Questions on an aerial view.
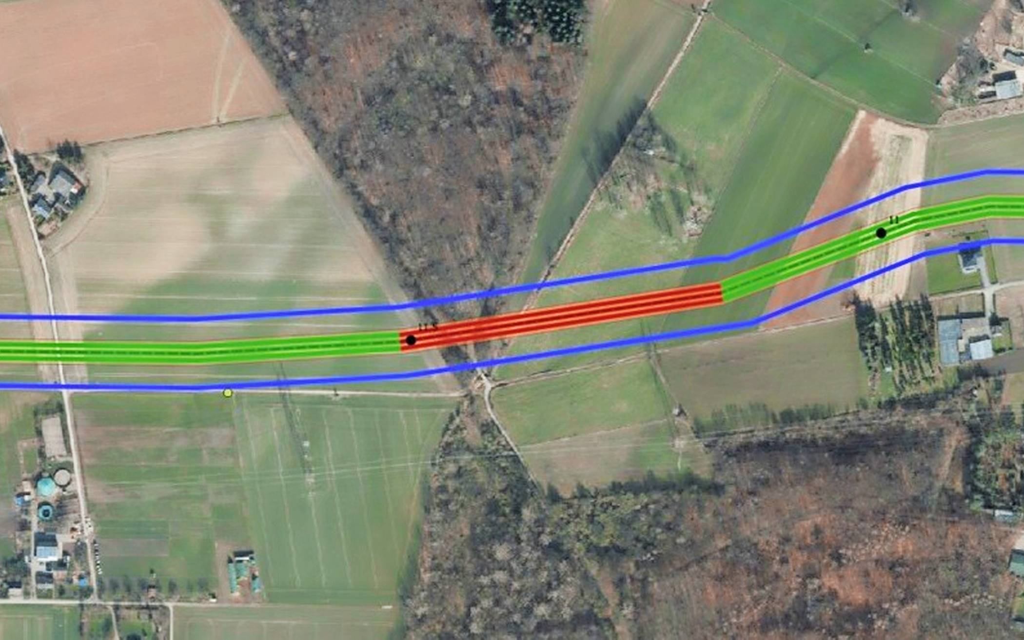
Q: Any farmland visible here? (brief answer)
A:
Yes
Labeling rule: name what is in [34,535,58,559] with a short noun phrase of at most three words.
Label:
barn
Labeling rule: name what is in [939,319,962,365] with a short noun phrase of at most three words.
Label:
shed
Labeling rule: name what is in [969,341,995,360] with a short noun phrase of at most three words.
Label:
shed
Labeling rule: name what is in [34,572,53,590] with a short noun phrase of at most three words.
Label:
house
